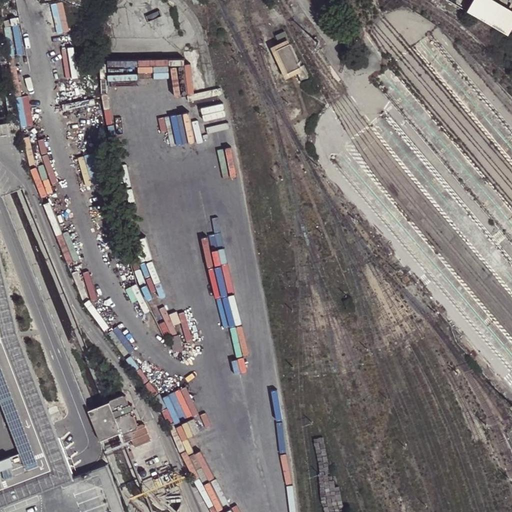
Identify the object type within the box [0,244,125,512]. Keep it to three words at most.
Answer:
building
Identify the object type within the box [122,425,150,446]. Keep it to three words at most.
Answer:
shed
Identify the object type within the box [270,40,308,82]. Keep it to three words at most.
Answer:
building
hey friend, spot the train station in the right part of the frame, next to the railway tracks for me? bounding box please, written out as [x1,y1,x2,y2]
[294,0,512,386]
